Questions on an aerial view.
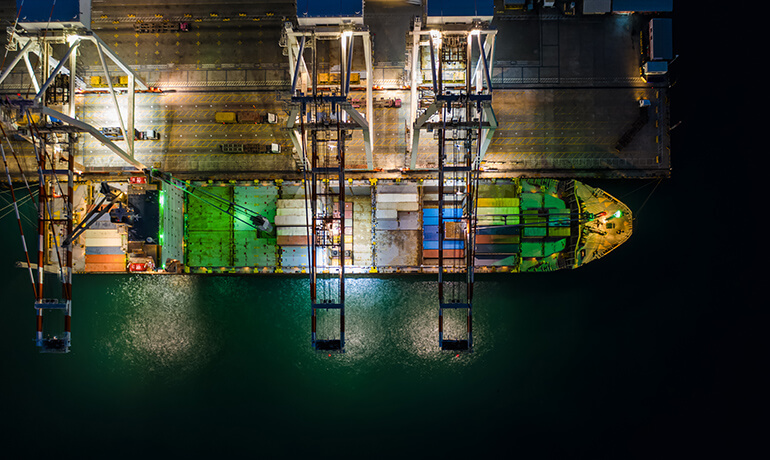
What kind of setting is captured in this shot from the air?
port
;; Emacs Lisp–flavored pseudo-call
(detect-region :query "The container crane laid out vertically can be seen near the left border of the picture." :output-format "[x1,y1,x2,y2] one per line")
[0,0,162,354]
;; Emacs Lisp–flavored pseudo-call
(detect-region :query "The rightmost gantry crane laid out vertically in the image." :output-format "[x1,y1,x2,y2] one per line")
[396,0,500,355]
